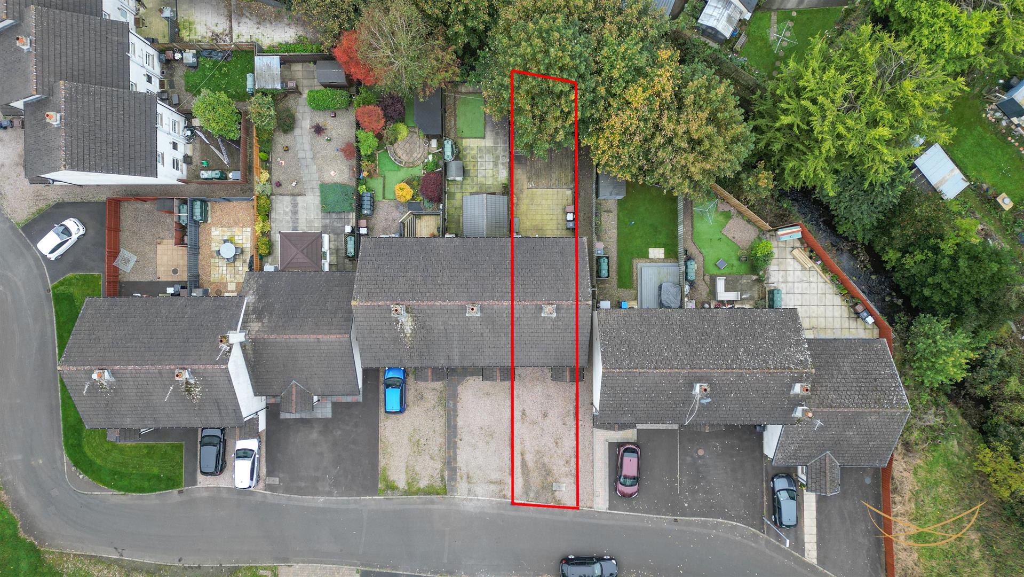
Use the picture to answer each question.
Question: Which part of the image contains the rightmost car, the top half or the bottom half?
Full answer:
It is in the bottom half that the rightmost car appears.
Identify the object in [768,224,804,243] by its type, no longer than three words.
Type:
shed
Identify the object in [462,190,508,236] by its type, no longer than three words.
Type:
shed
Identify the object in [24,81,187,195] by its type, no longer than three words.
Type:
house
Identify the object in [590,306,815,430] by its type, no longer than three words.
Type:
house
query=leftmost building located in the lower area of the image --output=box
[57,295,268,442]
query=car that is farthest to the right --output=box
[768,472,798,527]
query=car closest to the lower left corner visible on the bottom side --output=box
[197,430,228,477]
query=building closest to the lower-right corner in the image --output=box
[763,337,910,495]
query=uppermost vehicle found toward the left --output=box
[35,218,92,261]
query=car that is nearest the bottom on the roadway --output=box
[560,553,616,577]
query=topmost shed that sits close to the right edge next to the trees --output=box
[987,82,1024,129]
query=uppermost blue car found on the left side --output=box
[382,369,407,414]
